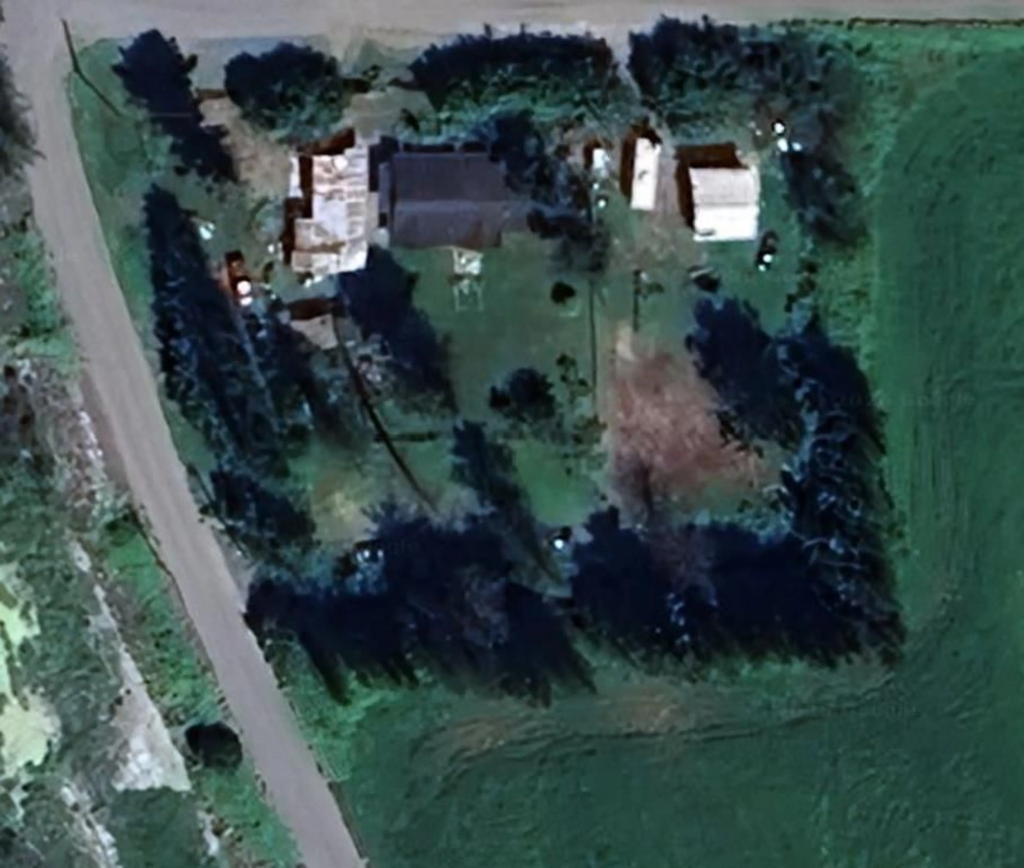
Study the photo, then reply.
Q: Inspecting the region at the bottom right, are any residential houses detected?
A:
No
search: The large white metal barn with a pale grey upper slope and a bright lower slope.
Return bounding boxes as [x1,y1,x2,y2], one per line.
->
[688,165,761,245]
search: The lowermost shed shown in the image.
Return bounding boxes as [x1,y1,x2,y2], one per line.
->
[293,315,343,354]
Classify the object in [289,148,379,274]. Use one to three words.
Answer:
house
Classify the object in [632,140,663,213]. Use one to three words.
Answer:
building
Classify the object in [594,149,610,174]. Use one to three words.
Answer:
shed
